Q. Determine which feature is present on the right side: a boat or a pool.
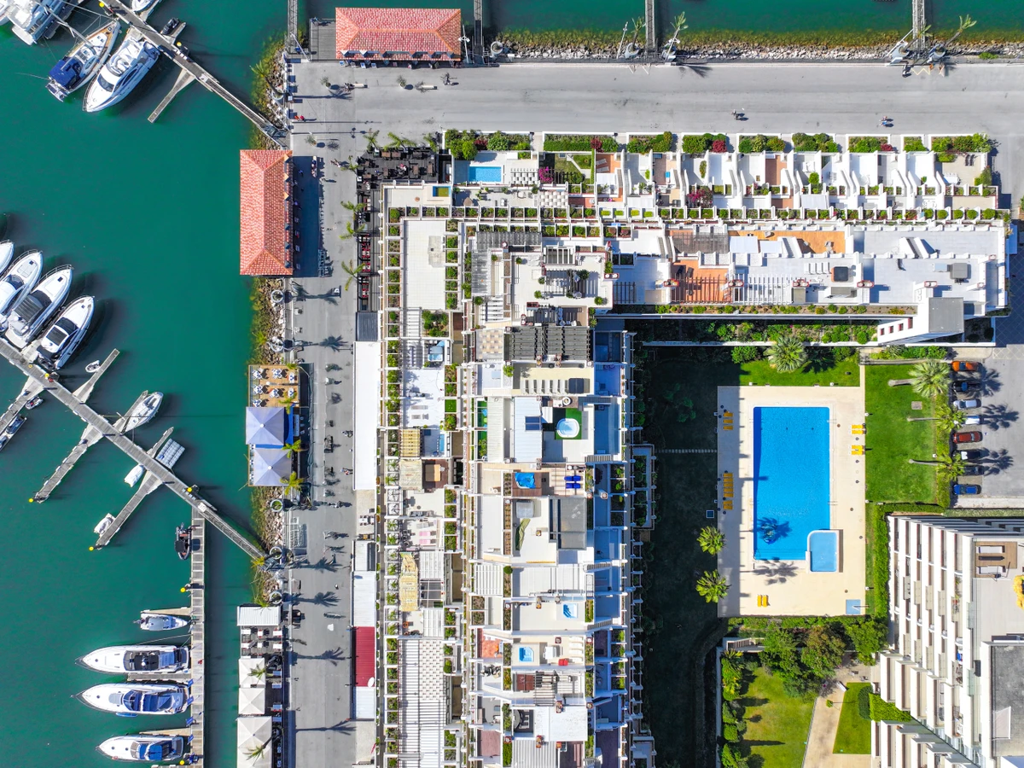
pool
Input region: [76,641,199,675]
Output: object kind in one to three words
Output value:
boat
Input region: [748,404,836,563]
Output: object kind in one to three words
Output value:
swimming pool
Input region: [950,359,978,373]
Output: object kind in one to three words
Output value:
car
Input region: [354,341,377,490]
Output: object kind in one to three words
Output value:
building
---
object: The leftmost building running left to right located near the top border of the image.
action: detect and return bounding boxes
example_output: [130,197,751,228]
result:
[335,7,462,63]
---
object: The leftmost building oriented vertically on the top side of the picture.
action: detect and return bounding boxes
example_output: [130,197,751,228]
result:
[239,149,293,280]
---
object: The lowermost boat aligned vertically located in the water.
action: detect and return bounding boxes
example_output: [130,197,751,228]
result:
[174,520,191,561]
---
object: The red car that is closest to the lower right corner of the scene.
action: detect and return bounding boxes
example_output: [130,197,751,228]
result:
[951,430,981,444]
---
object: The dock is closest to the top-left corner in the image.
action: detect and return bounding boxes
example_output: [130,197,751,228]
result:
[45,0,91,42]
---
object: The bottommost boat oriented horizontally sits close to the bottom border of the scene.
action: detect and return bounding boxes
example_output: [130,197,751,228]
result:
[96,731,192,761]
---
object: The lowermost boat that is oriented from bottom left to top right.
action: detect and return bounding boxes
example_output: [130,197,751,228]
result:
[93,514,113,535]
